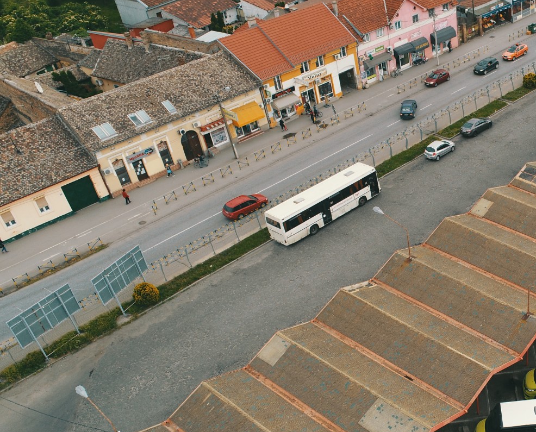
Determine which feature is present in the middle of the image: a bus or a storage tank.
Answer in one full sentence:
It is a bus that can be seen in the middle of the image.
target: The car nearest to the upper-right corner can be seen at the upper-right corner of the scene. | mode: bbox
[502,43,529,60]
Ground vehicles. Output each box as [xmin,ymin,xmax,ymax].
[502,43,529,60]
[473,55,499,74]
[479,399,536,432]
[219,194,268,221]
[424,67,451,87]
[265,160,382,242]
[460,115,493,137]
[425,53,430,63]
[396,101,426,120]
[422,139,455,160]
